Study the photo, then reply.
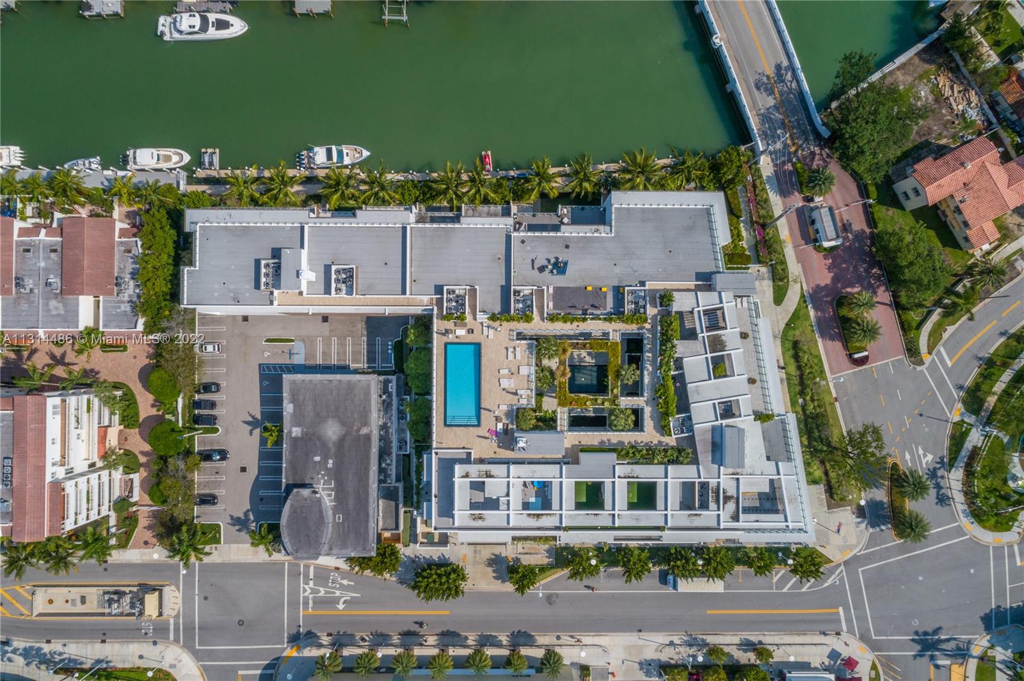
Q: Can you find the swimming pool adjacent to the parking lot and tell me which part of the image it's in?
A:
center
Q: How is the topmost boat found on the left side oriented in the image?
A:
from left to right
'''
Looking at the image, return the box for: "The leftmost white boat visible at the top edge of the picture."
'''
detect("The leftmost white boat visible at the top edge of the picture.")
[158,12,248,41]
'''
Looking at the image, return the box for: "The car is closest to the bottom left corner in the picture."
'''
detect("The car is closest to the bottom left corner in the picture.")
[196,495,219,507]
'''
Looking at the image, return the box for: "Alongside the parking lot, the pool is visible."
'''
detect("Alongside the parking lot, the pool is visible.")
[444,342,480,427]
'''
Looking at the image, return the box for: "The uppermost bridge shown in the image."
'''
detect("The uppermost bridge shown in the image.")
[694,0,831,154]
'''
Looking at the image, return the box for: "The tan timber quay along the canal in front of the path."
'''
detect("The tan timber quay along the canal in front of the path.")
[195,153,682,182]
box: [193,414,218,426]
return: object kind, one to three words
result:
vehicle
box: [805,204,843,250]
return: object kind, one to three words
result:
building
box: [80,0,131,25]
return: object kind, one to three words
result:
pier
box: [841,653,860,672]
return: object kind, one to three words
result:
umbrella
